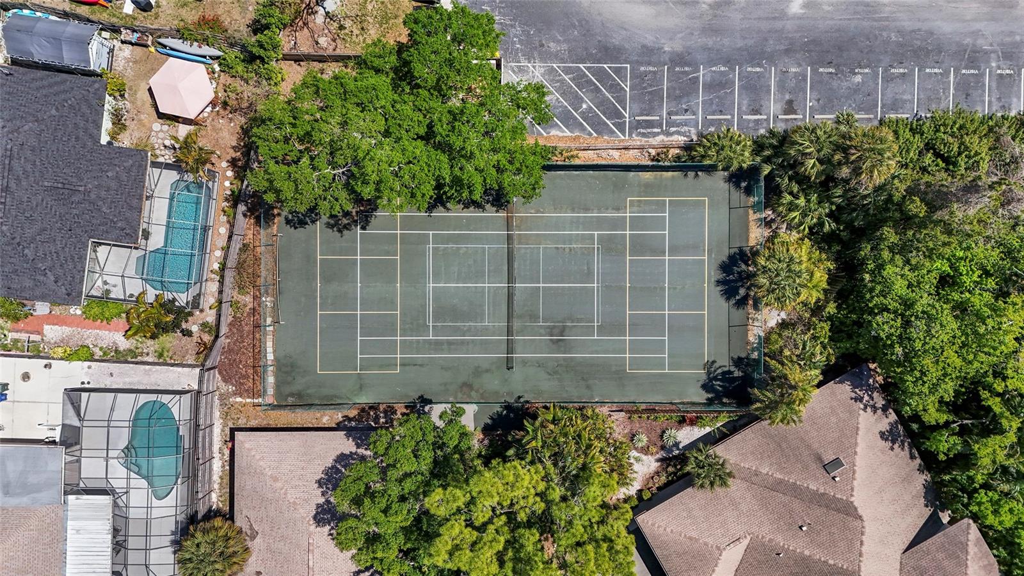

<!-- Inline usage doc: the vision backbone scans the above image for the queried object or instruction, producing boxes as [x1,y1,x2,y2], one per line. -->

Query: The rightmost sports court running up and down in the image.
[628,198,707,372]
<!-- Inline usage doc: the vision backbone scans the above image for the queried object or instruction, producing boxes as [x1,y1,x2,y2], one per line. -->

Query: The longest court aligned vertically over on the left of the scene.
[318,199,399,373]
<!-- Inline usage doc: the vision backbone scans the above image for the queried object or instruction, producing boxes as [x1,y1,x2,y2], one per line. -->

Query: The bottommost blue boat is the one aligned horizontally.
[156,48,211,62]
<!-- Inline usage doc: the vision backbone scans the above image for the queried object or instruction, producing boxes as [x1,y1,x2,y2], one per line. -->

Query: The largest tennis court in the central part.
[275,171,748,404]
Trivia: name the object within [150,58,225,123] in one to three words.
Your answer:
gazebo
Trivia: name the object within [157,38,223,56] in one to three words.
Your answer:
boat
